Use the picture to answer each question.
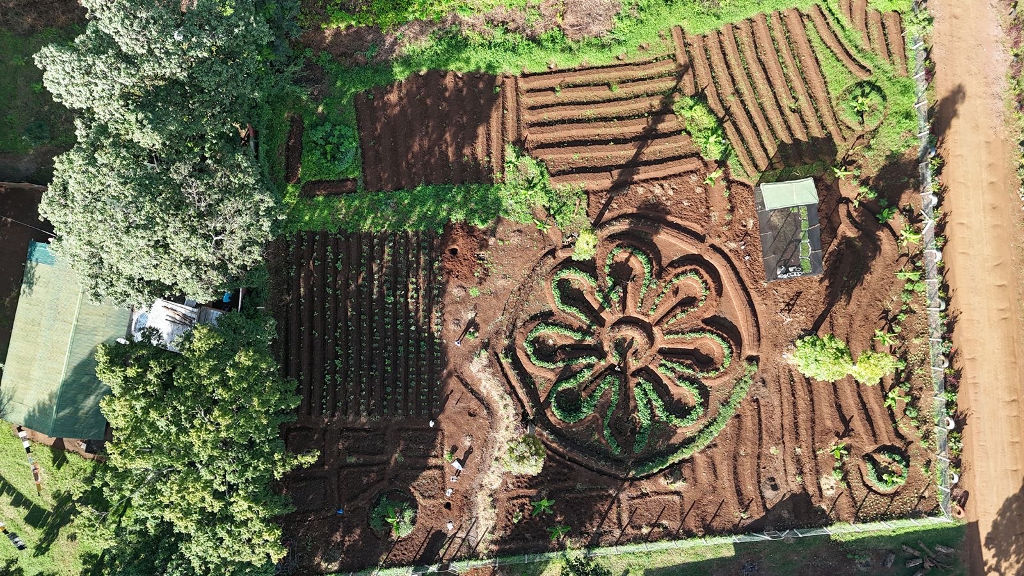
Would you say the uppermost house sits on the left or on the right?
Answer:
right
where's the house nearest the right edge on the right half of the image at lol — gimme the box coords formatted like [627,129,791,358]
[754,170,827,281]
